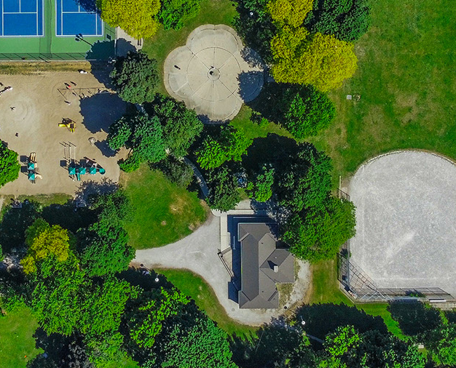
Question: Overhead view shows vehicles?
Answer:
No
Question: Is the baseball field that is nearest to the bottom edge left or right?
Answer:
right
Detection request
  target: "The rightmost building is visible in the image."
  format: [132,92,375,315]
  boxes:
[239,223,295,309]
